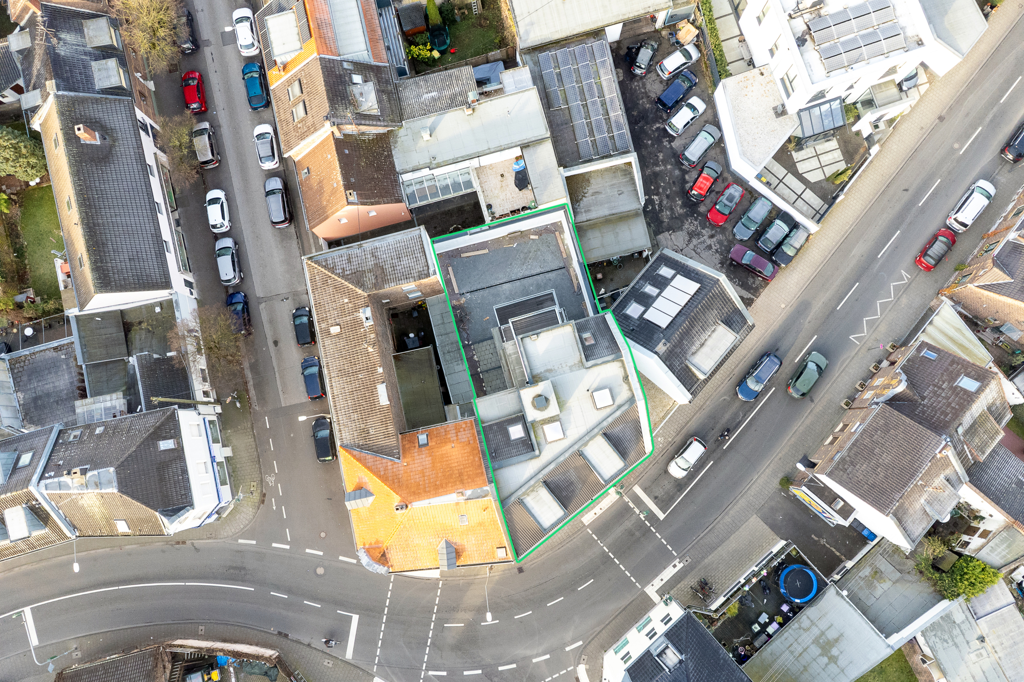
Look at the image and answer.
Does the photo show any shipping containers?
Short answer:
No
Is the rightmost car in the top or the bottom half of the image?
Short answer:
top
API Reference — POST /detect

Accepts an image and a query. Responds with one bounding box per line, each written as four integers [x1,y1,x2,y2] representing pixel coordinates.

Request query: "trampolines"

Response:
[425,12,451,48]
[780,564,830,610]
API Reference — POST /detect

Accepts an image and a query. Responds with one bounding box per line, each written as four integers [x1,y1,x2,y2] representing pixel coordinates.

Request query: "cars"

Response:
[898,61,928,94]
[669,435,708,480]
[308,417,337,464]
[684,161,723,206]
[732,196,775,243]
[225,291,253,337]
[771,226,811,269]
[262,176,293,230]
[997,118,1024,165]
[627,38,658,80]
[706,180,746,228]
[754,213,797,257]
[913,228,954,275]
[181,71,210,116]
[290,306,317,348]
[214,237,243,287]
[654,69,699,116]
[300,355,328,402]
[662,95,707,140]
[240,61,270,113]
[655,42,698,84]
[253,123,281,172]
[231,8,259,58]
[727,244,782,285]
[677,123,722,172]
[946,178,993,235]
[787,350,825,400]
[204,189,233,235]
[737,349,782,400]
[194,121,222,171]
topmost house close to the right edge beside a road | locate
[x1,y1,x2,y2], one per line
[714,0,989,182]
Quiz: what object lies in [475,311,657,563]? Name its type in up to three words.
building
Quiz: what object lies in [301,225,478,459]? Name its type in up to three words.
building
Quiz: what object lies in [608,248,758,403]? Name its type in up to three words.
house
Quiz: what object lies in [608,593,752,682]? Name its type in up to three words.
house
